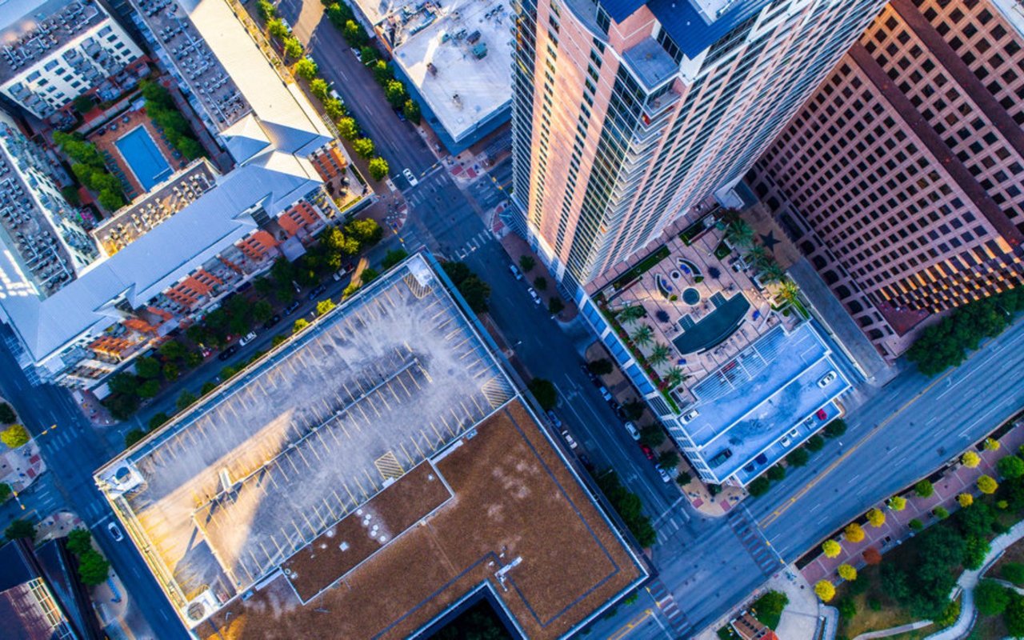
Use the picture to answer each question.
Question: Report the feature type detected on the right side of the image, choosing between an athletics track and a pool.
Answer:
pool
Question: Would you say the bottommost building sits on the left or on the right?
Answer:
right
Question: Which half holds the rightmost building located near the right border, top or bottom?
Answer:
top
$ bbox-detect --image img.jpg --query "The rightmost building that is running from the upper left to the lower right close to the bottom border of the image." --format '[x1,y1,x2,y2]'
[728,610,777,640]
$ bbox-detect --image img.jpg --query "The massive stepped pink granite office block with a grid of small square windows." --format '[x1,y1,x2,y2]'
[742,0,1024,362]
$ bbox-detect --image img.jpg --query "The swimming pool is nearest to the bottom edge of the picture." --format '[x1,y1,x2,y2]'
[672,291,751,354]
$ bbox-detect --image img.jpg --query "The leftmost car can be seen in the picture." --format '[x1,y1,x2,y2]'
[108,521,125,542]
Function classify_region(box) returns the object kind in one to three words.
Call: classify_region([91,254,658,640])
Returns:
building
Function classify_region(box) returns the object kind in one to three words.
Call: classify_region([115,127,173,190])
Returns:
swimming pool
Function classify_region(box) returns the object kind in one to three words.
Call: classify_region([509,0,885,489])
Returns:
building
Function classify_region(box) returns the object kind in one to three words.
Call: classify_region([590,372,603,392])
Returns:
vehicle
